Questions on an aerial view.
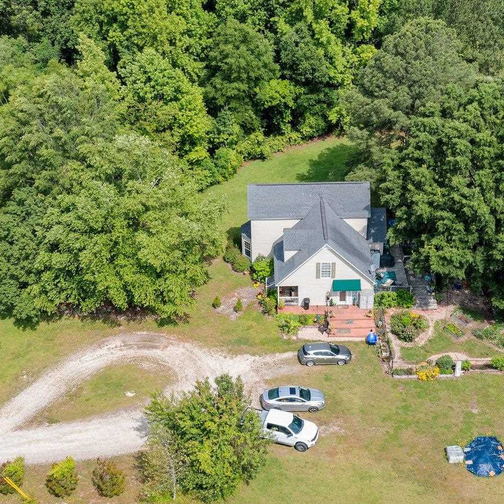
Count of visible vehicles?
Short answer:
three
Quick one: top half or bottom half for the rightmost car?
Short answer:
bottom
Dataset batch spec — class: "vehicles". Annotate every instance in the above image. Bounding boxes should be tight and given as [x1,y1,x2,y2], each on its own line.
[298,339,353,366]
[263,408,322,451]
[262,382,325,411]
